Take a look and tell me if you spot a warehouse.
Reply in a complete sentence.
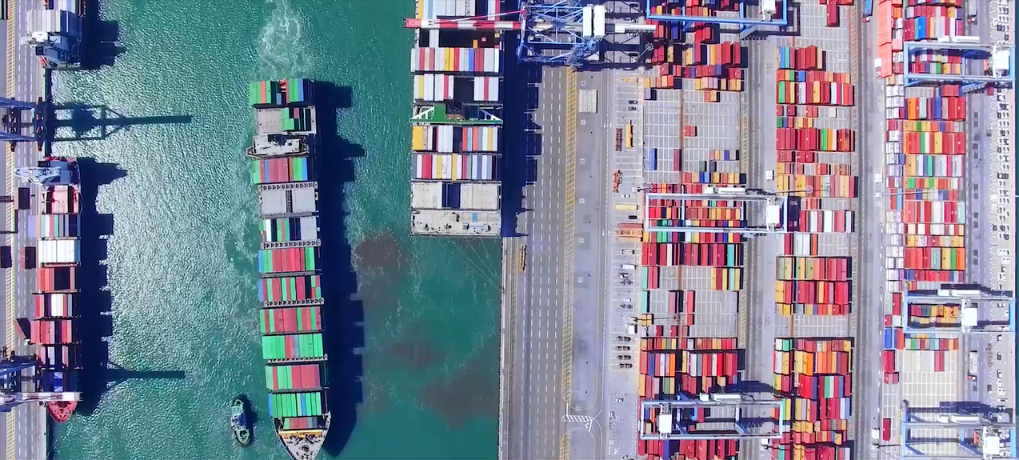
No, no warehouse is visible in the scene.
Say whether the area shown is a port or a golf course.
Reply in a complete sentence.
This looks like a port.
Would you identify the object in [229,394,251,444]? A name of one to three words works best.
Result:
boat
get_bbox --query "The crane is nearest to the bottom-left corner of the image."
[0,352,81,406]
